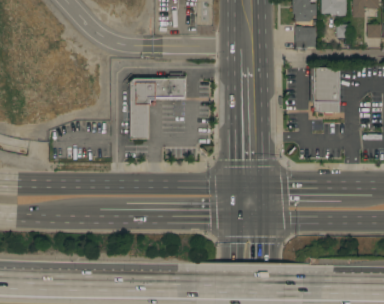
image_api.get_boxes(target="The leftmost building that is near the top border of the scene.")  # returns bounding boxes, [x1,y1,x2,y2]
[198,0,213,26]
